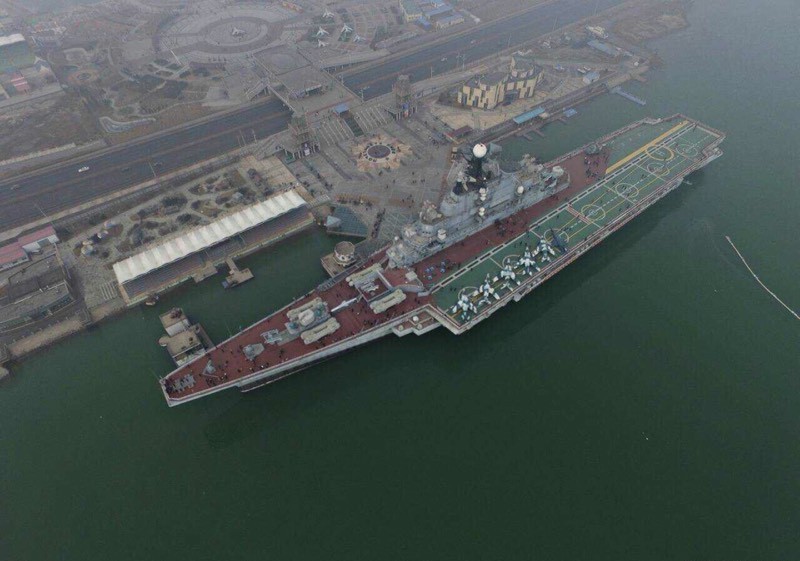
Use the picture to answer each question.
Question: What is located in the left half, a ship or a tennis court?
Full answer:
The feature located in the left half is a ship.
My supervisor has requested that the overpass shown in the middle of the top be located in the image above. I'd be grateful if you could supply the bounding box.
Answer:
[245,43,392,146]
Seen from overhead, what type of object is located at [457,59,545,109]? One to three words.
building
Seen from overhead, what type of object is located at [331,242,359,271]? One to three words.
building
